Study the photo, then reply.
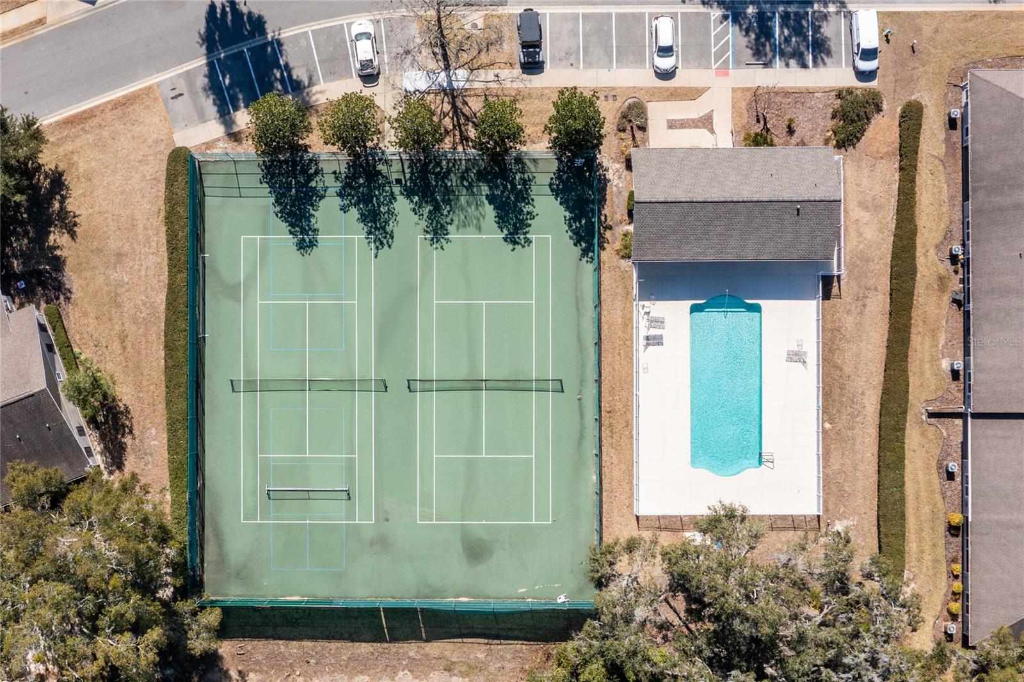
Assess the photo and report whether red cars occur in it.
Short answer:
No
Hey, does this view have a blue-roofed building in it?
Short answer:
No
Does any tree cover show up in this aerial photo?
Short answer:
Yes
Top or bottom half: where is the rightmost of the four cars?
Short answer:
top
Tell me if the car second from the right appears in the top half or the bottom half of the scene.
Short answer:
top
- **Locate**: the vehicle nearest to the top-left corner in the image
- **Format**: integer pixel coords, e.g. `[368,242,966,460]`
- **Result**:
[351,20,379,76]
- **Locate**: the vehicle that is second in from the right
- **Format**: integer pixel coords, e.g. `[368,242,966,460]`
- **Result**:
[651,16,680,74]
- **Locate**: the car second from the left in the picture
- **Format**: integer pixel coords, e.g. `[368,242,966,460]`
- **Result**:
[518,7,544,67]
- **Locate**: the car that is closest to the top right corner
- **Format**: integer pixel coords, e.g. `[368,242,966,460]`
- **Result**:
[849,7,882,72]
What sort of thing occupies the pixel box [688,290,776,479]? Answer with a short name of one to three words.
swimming pool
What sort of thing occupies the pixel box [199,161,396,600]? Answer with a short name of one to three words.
tennis court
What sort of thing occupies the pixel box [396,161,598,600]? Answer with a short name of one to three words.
tennis court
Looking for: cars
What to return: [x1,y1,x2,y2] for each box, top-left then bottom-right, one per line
[518,7,544,67]
[351,20,379,76]
[651,16,680,74]
[849,7,882,72]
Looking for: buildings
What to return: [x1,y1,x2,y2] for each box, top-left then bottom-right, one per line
[946,69,1024,639]
[632,147,841,262]
[0,303,99,506]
